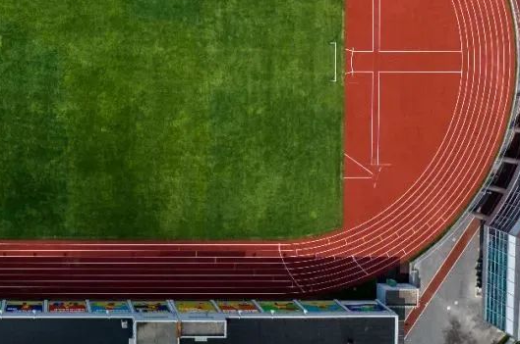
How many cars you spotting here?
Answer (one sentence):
There are no cars in this view.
